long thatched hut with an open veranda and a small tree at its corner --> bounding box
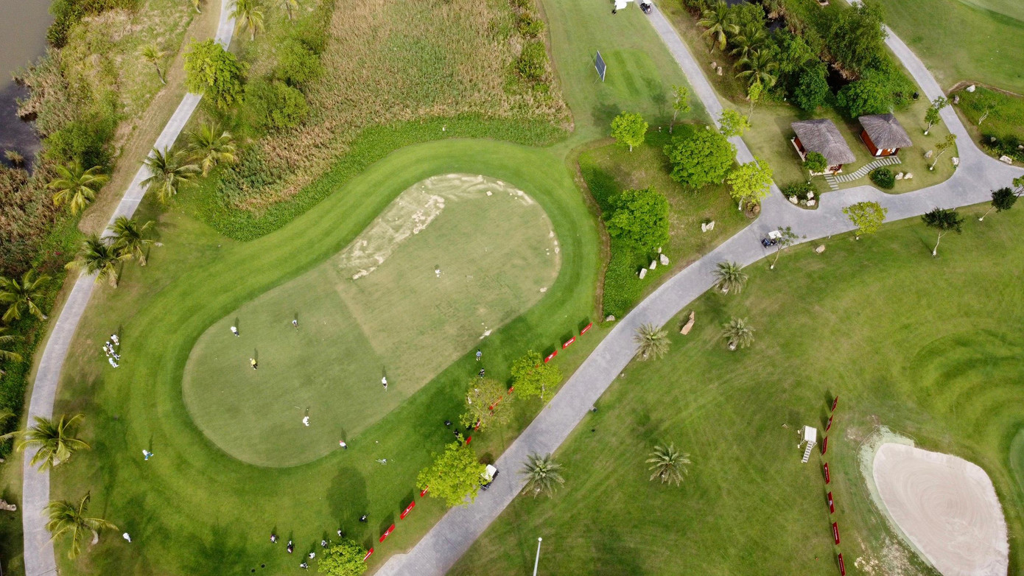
[786,119,856,178]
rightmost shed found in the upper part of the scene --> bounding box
[856,113,913,160]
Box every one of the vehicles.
[760,228,785,252]
[476,466,500,497]
[641,0,654,15]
